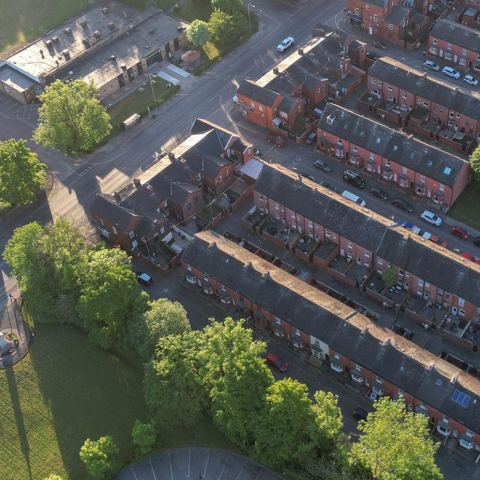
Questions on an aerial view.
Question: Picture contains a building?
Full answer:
Yes, the photo shows a building.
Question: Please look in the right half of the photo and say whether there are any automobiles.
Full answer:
Yes, an automobile appears in the right half of the photo.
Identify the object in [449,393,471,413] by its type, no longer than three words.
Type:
solar panel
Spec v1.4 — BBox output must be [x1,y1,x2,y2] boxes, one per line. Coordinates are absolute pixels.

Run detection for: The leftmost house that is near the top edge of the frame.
[0,0,191,118]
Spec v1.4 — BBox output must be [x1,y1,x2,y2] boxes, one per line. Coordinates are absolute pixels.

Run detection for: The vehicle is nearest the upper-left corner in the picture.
[149,147,172,164]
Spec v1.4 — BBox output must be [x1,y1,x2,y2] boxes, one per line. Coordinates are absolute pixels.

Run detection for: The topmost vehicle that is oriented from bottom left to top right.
[277,36,296,51]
